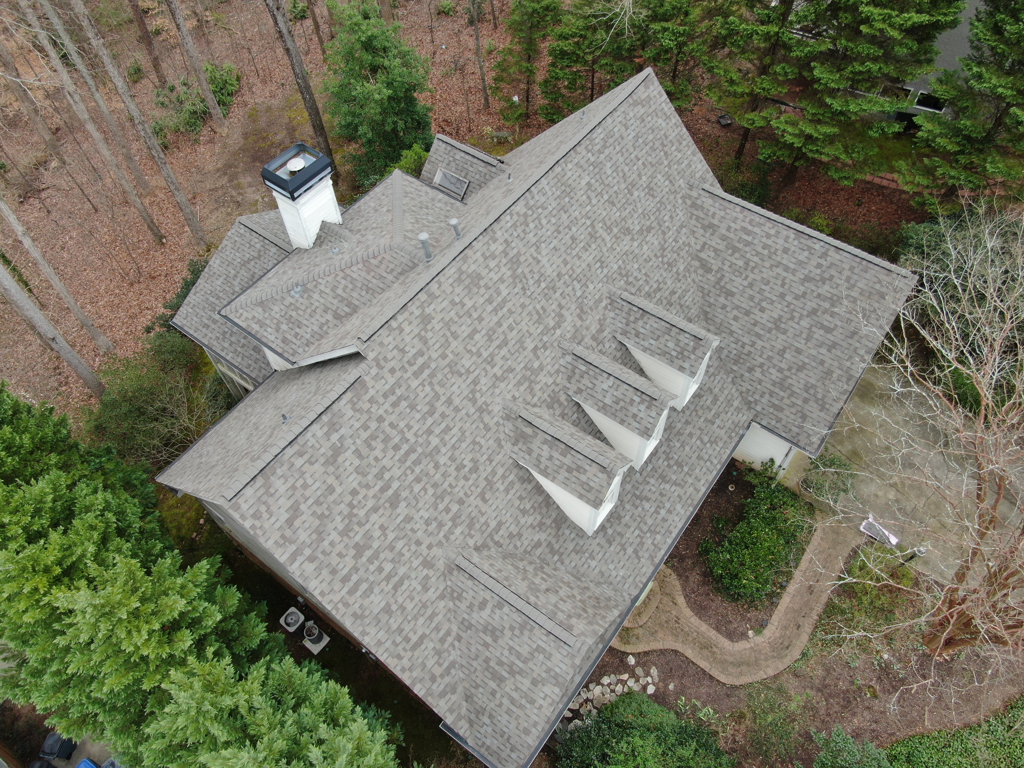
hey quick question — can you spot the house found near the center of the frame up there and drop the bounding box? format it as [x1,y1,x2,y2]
[153,69,919,768]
